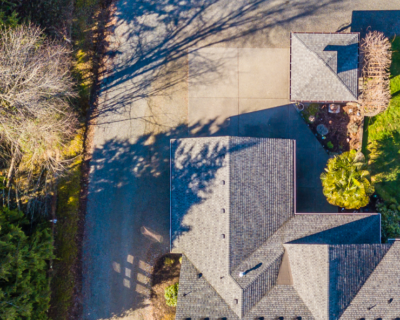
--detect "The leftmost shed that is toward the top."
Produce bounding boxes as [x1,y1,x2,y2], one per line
[289,30,362,104]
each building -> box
[168,136,400,320]
[289,30,362,104]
